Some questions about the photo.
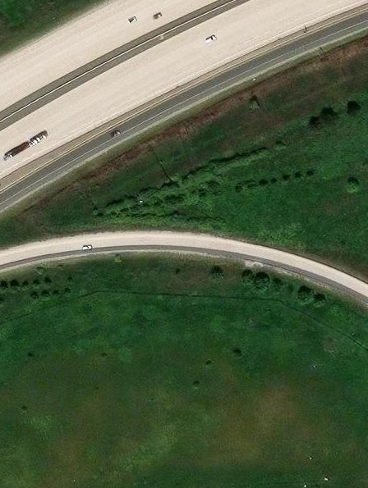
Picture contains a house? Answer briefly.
No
